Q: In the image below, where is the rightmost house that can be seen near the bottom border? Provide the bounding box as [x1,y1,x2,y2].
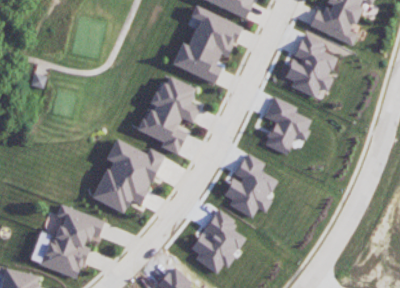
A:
[192,209,250,276]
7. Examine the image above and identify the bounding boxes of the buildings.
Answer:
[192,209,250,276]
[310,0,376,44]
[224,154,282,220]
[31,208,106,280]
[204,0,256,20]
[137,76,202,158]
[91,140,166,214]
[0,268,45,288]
[172,6,240,86]
[164,267,196,288]
[284,30,339,98]
[261,98,314,158]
